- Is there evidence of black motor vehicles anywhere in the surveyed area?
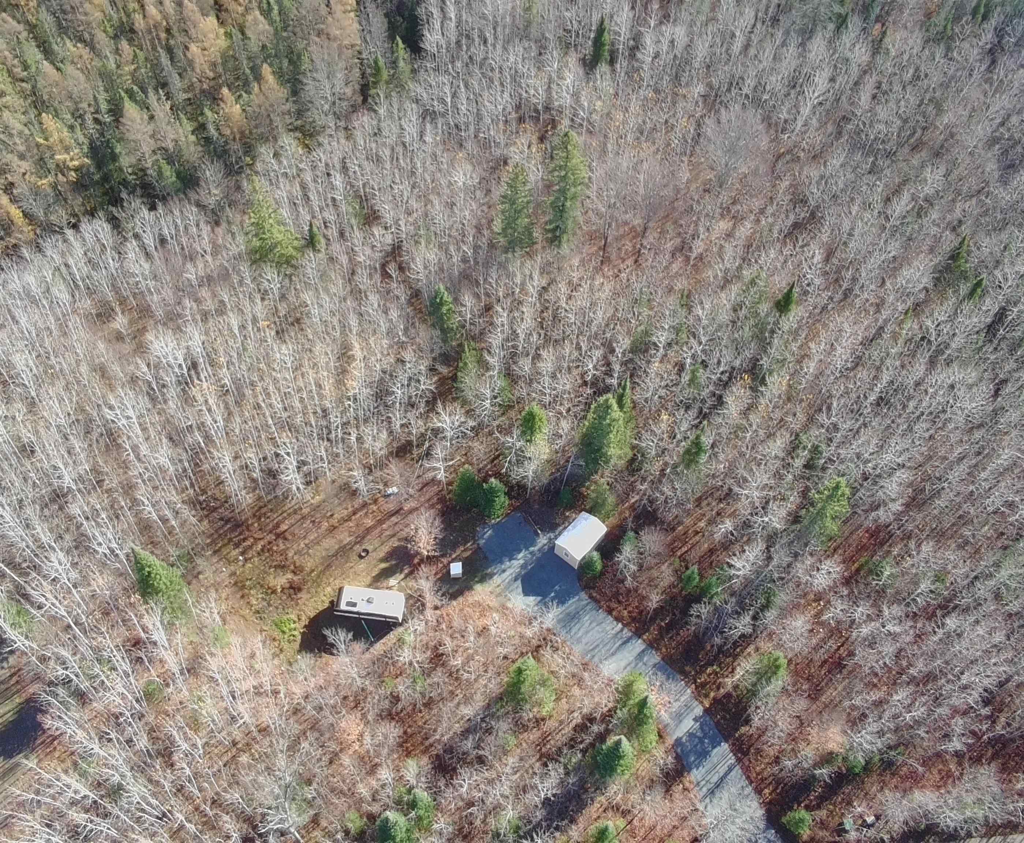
No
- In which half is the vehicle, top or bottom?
bottom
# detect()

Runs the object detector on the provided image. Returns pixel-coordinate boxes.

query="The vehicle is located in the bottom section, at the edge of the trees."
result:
[334,585,406,628]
